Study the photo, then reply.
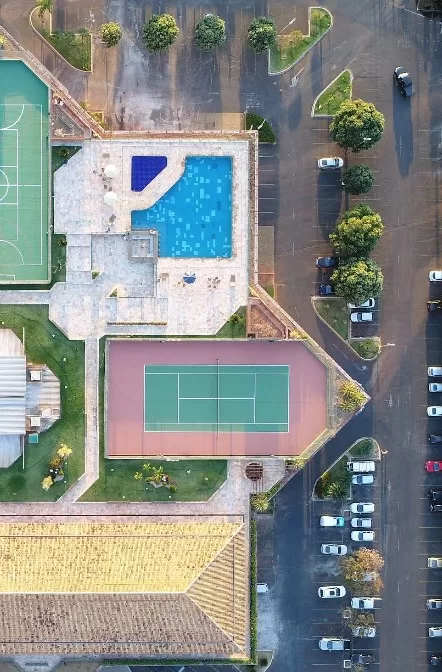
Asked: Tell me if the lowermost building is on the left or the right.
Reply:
left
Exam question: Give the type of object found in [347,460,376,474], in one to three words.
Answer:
vehicle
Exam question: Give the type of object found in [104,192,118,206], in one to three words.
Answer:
umbrella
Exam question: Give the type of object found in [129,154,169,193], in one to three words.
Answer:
swimming pool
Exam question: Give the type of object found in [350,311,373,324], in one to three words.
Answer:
vehicle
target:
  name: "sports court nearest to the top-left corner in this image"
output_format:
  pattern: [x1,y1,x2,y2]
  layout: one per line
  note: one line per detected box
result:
[0,55,50,280]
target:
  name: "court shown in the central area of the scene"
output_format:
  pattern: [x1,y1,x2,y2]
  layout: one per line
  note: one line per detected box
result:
[102,339,334,463]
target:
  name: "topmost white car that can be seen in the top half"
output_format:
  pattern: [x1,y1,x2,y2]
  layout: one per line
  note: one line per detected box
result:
[317,156,344,169]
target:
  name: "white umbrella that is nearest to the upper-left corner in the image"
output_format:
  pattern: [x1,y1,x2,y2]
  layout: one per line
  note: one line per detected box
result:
[104,165,118,179]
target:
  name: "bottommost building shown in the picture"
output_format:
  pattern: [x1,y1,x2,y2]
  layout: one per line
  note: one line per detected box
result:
[0,514,249,658]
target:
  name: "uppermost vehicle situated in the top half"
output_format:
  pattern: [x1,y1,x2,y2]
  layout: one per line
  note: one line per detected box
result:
[392,66,415,99]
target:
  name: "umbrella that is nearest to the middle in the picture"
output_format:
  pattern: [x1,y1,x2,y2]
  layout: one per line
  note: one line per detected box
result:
[183,272,197,285]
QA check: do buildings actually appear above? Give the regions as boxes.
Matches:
[0,514,249,658]
[0,328,30,469]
